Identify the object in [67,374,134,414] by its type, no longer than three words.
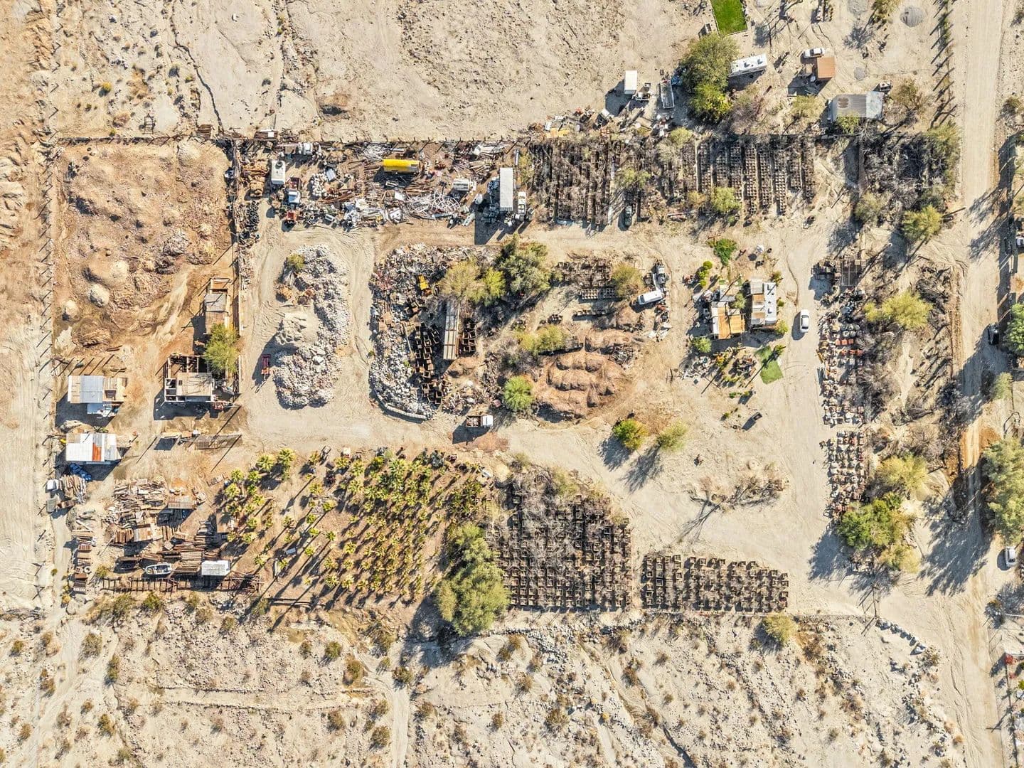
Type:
shed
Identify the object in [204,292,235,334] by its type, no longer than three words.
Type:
building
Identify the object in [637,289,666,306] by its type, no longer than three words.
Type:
vehicle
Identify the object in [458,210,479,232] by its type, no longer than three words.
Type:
truck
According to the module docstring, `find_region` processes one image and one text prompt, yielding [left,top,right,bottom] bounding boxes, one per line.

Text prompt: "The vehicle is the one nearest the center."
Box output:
[466,415,494,427]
